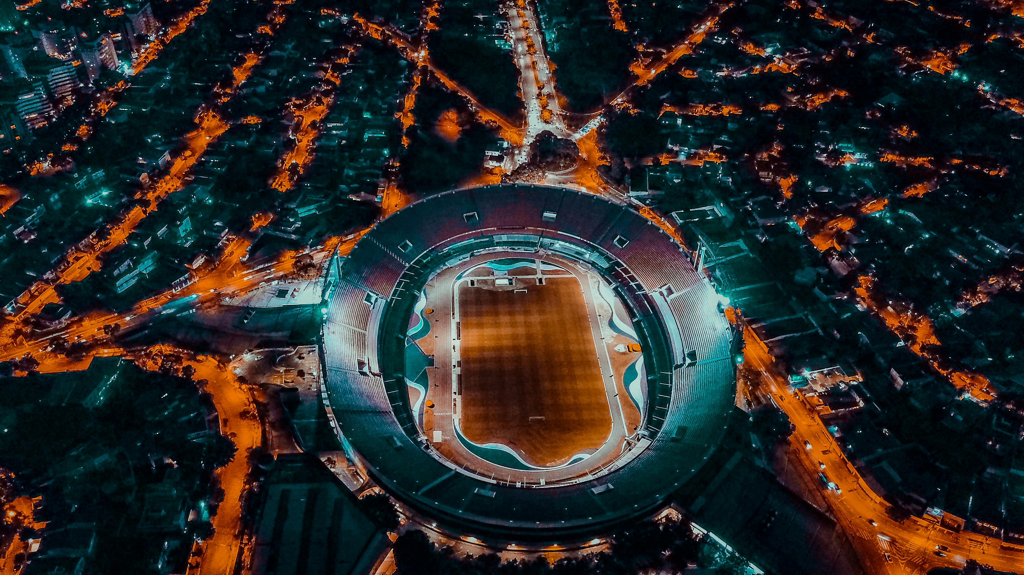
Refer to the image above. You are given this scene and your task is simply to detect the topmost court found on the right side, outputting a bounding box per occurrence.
[672,201,725,223]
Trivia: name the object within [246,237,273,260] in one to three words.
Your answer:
house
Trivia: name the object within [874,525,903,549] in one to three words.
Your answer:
bus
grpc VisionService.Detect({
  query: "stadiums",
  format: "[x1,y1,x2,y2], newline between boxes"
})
[322,182,739,556]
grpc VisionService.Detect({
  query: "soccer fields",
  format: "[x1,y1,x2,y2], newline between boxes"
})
[451,260,612,467]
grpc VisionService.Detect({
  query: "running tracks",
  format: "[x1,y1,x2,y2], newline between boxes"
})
[434,254,624,474]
